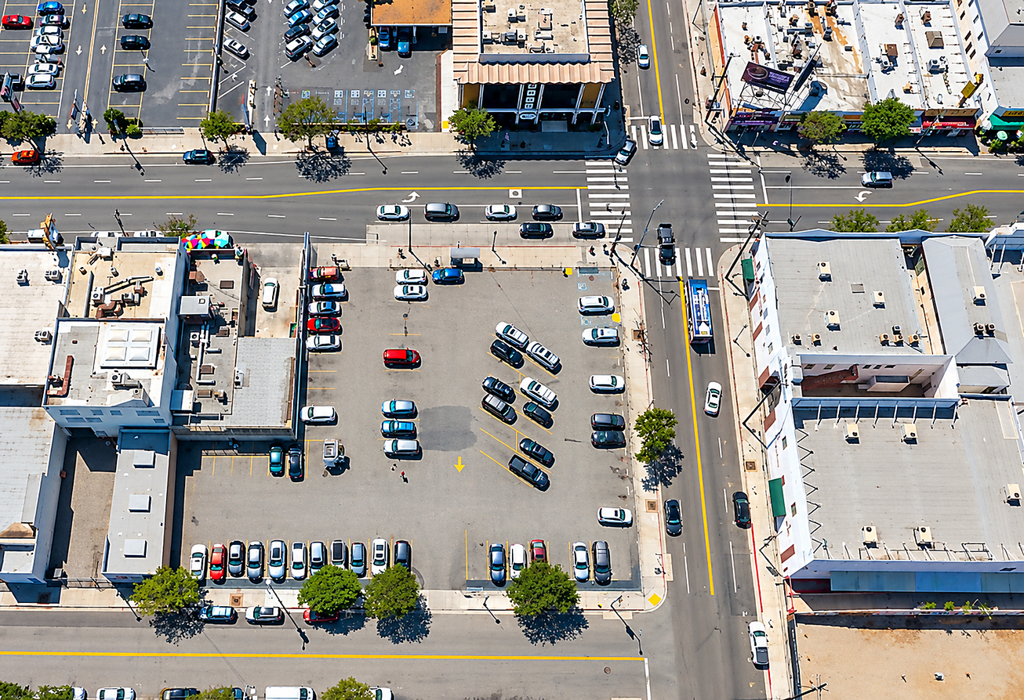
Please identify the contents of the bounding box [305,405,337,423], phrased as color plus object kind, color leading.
white car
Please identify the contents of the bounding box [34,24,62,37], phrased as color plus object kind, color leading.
white vehicle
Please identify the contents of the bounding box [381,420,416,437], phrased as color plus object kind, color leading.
blue car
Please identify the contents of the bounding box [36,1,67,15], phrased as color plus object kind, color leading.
blue car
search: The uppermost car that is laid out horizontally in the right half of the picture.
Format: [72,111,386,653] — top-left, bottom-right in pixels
[860,172,893,187]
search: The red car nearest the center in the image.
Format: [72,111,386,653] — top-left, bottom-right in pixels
[382,350,421,367]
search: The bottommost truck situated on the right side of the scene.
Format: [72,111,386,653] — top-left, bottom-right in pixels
[744,620,774,672]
